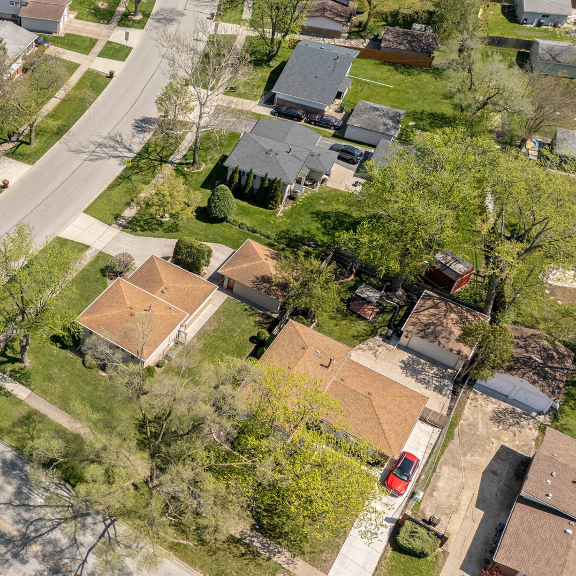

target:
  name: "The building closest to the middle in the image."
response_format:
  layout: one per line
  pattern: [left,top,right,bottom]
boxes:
[217,238,308,313]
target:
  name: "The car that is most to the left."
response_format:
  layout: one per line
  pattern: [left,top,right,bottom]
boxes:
[32,32,56,49]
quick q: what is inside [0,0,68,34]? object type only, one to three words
house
